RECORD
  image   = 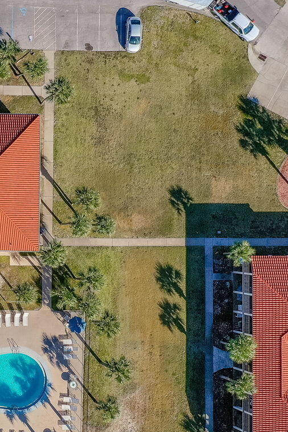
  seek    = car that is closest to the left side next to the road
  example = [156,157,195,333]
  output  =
[124,16,143,53]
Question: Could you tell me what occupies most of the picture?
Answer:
grass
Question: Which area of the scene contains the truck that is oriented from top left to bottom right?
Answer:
top right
